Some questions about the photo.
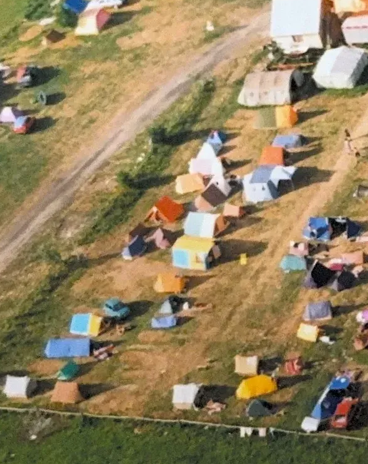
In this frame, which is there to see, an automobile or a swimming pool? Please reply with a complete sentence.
Looking from above, you can make out an automobile.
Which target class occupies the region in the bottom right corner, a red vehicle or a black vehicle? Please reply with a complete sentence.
There is a red vehicle in the bottom right corner.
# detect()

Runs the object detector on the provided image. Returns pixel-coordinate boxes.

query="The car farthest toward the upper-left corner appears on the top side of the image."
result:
[16,57,34,87]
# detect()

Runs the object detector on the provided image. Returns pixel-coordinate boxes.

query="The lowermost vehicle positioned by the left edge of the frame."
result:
[9,108,37,133]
